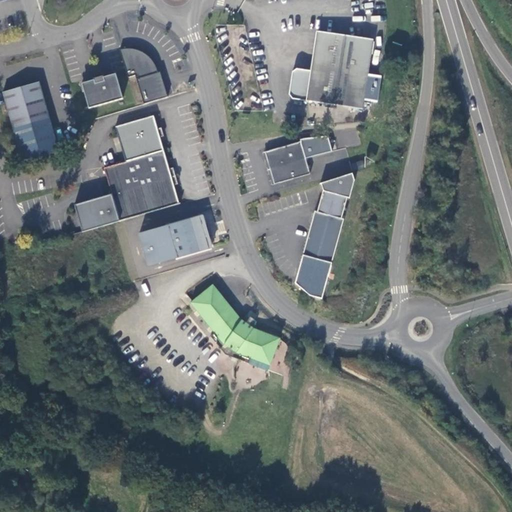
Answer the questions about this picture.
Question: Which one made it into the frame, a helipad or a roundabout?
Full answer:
The image shows a roundabout.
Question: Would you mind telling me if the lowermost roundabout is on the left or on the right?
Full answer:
It is on the right.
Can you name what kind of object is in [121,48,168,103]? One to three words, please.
building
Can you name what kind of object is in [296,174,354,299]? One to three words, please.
building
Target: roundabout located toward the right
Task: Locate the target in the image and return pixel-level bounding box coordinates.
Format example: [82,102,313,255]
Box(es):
[391,298,450,358]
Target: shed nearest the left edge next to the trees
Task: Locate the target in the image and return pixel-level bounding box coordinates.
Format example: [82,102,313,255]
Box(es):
[2,82,57,160]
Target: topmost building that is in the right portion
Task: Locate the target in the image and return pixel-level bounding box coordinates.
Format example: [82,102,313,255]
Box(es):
[288,31,382,108]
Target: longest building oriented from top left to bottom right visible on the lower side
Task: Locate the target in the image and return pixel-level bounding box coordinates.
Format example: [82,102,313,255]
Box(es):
[191,284,281,372]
